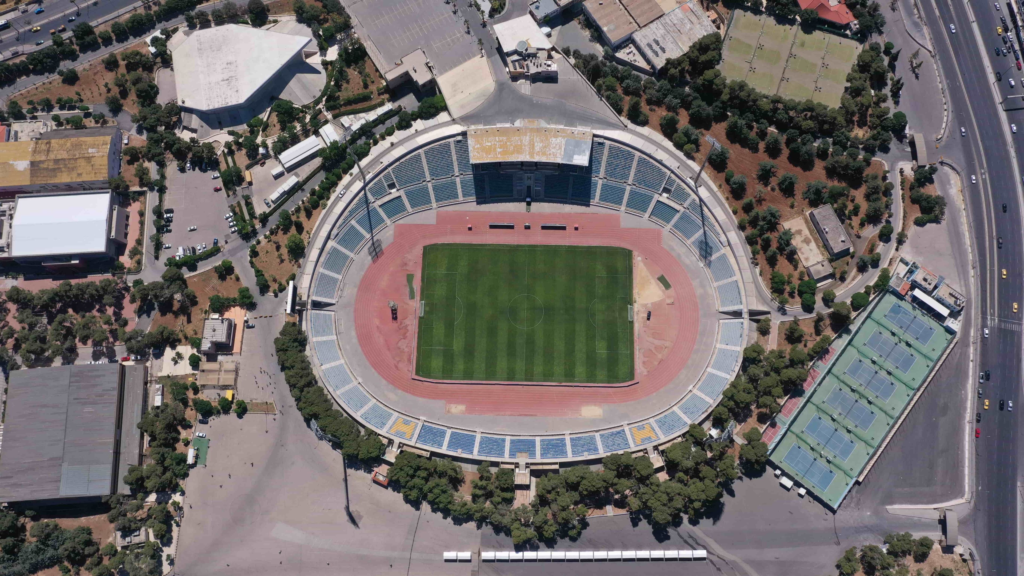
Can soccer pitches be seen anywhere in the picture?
Yes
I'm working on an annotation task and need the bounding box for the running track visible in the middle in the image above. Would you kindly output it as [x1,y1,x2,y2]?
[354,211,699,418]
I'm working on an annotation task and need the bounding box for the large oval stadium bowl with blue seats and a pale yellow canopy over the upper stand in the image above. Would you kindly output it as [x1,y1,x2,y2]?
[285,114,771,492]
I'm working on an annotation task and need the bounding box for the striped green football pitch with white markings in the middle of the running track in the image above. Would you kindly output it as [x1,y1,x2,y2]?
[417,226,635,384]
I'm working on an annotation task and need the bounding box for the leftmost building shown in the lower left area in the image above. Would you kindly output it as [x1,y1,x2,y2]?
[0,363,120,504]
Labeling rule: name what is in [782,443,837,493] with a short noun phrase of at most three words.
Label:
tennis court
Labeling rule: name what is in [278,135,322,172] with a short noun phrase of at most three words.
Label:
shed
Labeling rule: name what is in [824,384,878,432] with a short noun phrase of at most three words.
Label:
tennis court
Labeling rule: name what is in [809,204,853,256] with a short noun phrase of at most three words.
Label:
building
